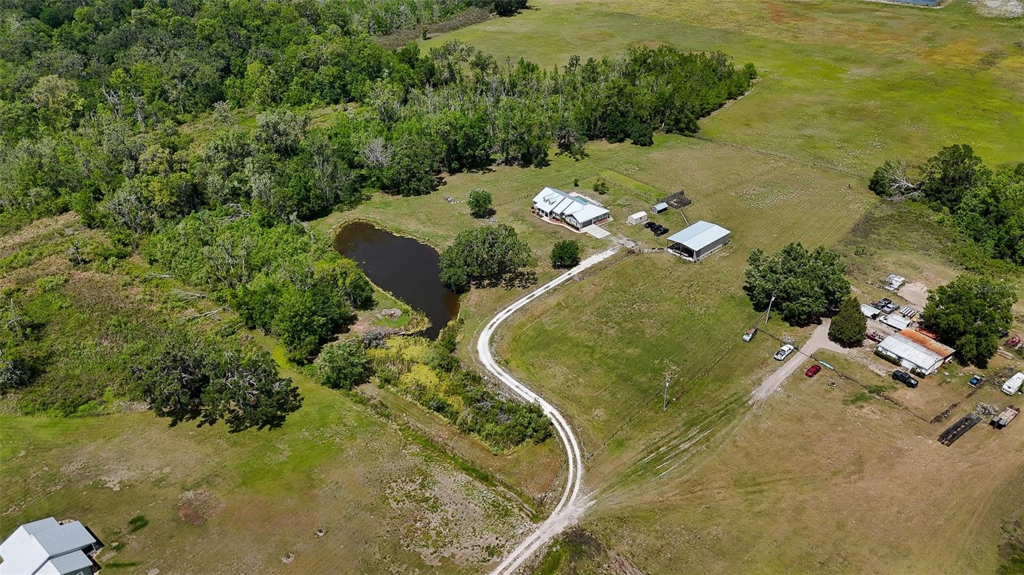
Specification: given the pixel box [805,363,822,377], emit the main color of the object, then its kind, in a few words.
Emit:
red car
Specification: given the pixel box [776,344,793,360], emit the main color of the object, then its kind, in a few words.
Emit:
white vehicle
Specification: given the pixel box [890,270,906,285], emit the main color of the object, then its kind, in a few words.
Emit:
white vehicle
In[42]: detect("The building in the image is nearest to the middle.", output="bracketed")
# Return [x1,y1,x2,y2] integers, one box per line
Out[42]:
[529,186,609,230]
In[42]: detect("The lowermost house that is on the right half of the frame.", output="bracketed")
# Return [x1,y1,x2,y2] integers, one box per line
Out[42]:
[877,328,955,377]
